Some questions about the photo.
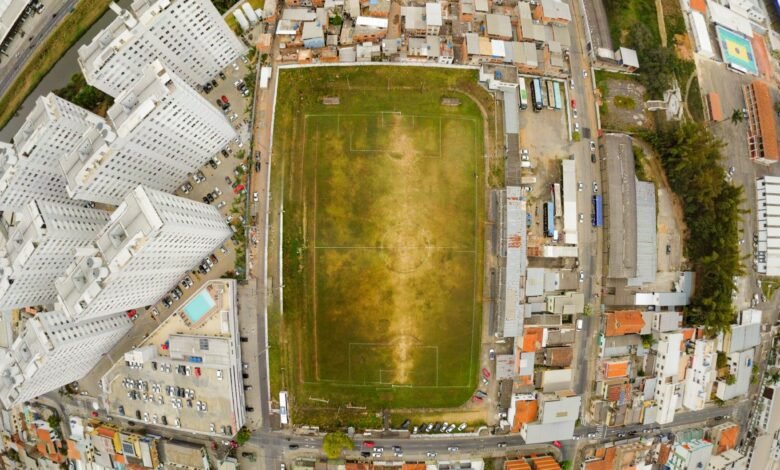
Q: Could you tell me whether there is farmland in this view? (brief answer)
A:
No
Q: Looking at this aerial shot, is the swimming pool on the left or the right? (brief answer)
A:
left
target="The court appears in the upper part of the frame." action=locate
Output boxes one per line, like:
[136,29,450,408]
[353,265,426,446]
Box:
[718,25,762,74]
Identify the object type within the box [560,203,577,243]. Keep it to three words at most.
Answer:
shed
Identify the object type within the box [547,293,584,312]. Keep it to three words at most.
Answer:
house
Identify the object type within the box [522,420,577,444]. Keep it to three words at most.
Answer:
building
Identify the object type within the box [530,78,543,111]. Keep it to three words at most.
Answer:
vehicle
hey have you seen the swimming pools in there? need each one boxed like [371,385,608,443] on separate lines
[177,282,222,328]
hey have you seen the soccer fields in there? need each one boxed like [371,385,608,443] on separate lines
[268,66,497,432]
